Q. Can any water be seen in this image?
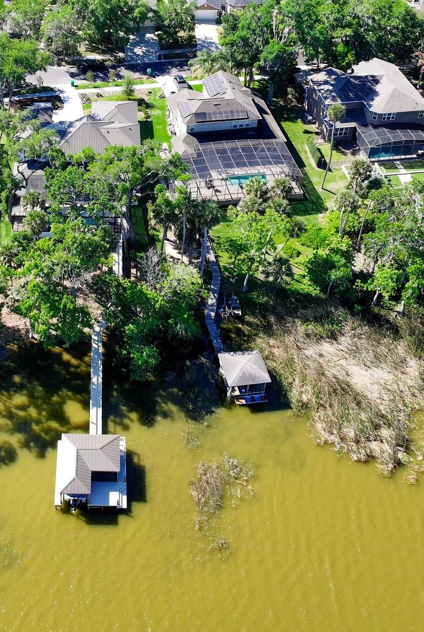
Yes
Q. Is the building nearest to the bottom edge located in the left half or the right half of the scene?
left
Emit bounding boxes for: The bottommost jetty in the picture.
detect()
[88,323,107,435]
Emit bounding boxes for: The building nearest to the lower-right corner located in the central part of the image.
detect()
[216,348,271,404]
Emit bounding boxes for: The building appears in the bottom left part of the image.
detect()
[54,431,128,511]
